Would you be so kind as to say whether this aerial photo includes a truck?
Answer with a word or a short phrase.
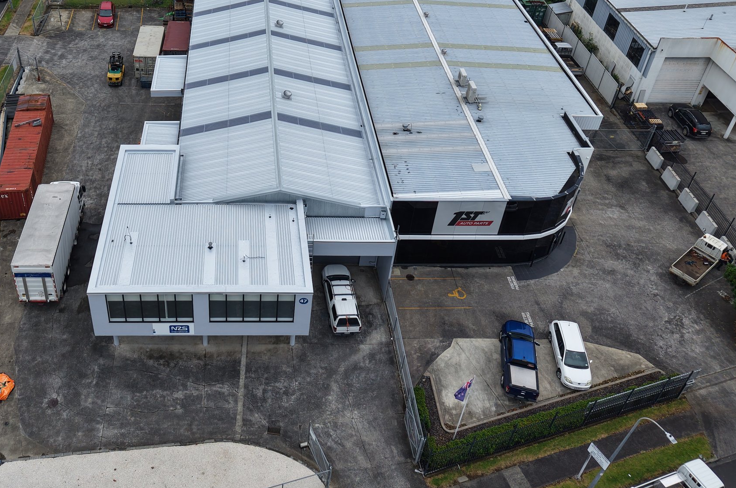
Yes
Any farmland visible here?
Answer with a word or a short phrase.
No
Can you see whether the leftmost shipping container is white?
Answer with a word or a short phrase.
No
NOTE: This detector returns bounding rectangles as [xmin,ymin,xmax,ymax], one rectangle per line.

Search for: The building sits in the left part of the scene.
[85,0,399,346]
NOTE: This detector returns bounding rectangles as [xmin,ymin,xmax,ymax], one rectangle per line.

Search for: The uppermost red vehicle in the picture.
[96,0,115,24]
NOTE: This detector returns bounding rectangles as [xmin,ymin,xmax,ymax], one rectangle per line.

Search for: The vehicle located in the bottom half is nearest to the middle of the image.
[325,262,363,331]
